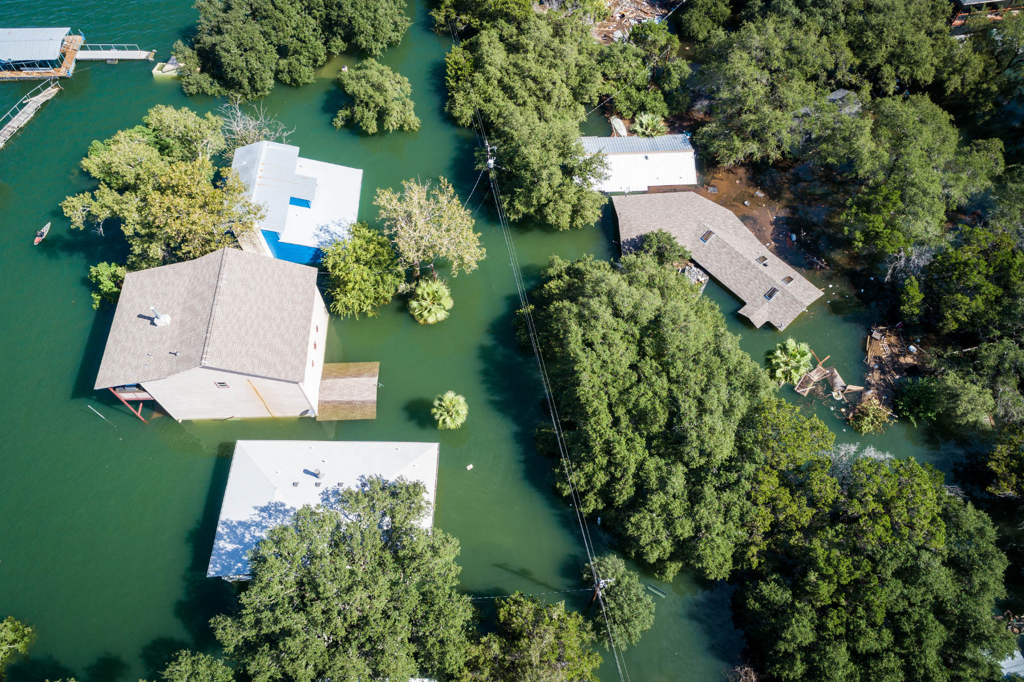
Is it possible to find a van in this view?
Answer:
No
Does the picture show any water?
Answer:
Yes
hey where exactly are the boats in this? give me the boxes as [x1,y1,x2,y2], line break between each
[33,221,50,244]
[610,116,627,136]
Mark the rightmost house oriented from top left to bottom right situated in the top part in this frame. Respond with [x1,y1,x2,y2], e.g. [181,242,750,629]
[611,185,825,332]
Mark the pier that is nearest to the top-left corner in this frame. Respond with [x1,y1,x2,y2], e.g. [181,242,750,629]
[0,23,84,81]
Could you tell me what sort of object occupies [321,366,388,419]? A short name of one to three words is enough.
building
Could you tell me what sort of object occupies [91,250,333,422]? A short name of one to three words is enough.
house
